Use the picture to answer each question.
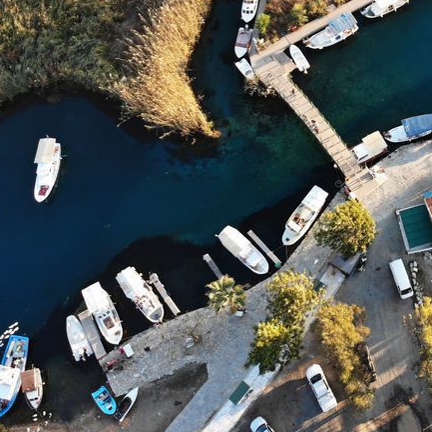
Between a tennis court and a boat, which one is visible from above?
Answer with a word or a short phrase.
boat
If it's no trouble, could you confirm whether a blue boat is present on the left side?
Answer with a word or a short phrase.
Yes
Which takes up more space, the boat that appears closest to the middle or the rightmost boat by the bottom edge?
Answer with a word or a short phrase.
the boat that appears closest to the middle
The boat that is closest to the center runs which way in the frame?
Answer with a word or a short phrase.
on a diagonal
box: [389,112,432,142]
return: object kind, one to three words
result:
boat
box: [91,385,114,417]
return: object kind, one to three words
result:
boat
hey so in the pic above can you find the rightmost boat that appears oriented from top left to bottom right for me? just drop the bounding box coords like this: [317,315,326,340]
[291,45,312,77]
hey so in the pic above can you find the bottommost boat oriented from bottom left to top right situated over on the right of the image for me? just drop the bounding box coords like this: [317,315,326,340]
[286,180,330,244]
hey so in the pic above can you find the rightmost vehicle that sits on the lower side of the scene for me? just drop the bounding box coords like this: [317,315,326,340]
[387,256,417,302]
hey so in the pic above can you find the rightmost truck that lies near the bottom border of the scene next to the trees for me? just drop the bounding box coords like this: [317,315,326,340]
[305,362,341,416]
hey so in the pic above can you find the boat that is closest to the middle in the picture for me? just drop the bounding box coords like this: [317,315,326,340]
[216,223,263,273]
